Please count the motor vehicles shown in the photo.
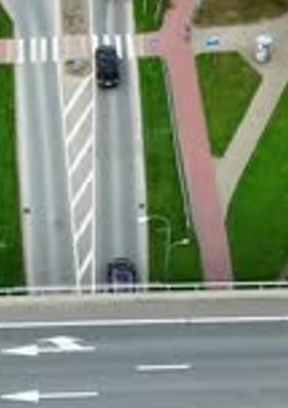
3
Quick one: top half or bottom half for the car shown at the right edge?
top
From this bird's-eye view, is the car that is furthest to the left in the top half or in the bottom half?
top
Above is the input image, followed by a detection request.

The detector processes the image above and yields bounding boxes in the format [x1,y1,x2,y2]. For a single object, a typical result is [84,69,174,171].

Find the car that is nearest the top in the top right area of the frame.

[253,37,275,64]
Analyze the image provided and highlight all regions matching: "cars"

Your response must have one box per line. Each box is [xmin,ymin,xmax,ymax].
[253,37,275,64]
[95,46,121,90]
[106,263,137,292]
